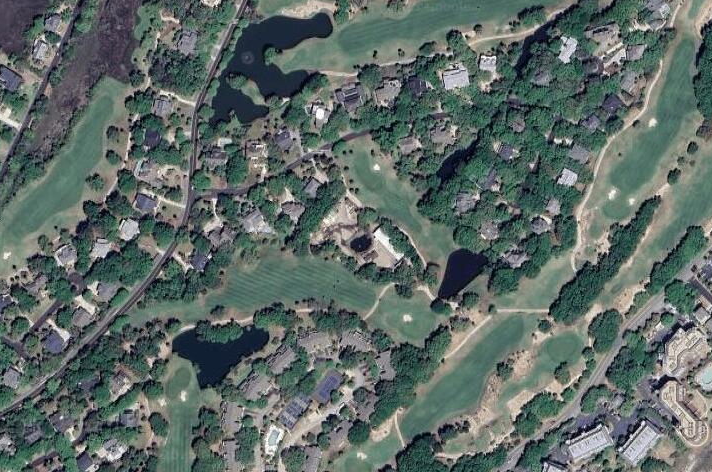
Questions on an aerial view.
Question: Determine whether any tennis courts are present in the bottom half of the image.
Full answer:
Yes, there is a tennis court in the bottom half of the image.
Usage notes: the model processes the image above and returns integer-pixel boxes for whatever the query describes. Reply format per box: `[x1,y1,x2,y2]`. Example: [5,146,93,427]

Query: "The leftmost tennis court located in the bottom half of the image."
[276,392,312,427]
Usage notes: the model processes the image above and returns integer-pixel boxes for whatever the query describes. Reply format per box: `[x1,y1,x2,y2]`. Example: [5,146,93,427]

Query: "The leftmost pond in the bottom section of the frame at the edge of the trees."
[172,326,270,388]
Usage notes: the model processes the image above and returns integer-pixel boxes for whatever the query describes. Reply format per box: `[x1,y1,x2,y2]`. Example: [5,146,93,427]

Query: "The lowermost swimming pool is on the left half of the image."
[265,424,284,457]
